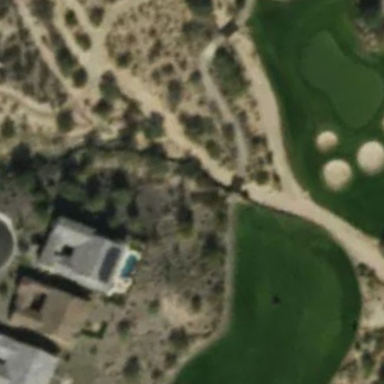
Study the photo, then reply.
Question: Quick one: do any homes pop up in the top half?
No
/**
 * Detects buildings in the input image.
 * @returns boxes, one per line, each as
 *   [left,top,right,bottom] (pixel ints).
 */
[0,335,60,384]
[37,215,126,293]
[6,276,81,339]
